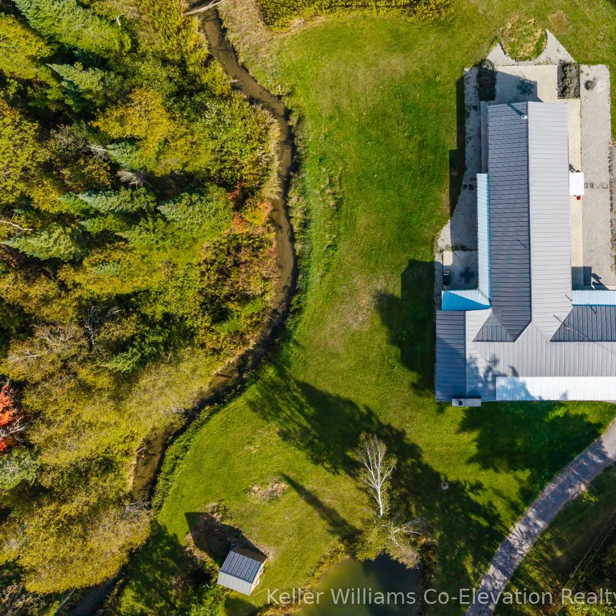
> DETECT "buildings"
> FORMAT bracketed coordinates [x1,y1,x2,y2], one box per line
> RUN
[211,541,269,603]
[435,99,616,410]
